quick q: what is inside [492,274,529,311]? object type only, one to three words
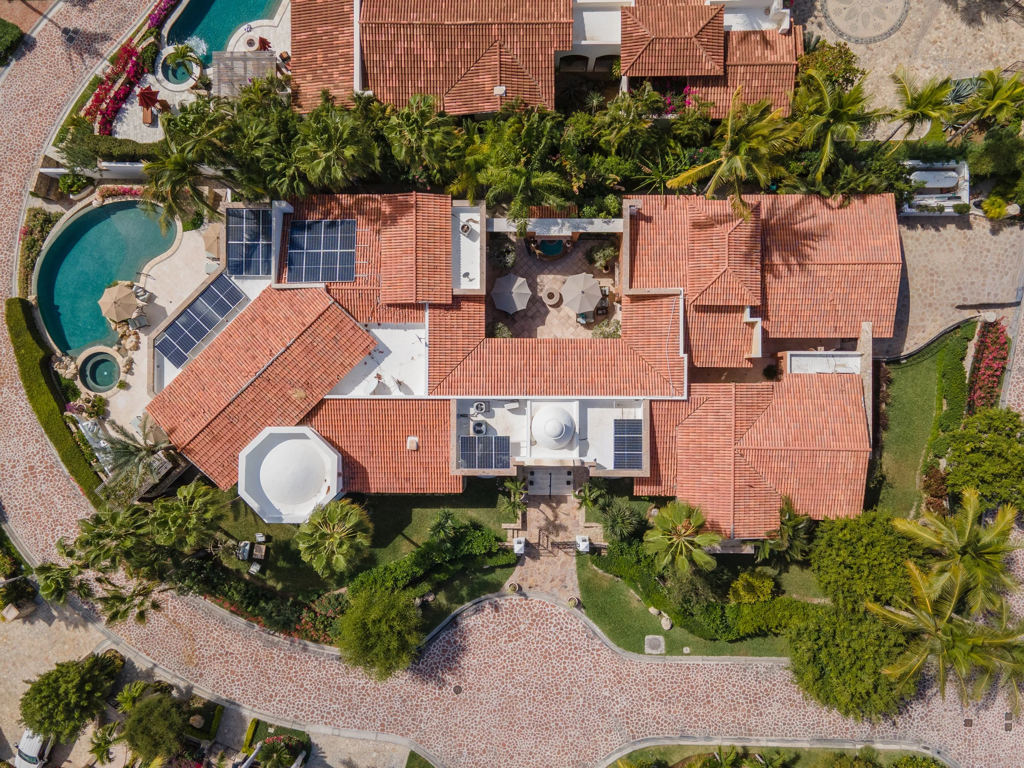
umbrella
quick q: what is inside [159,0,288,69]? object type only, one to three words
swimming pool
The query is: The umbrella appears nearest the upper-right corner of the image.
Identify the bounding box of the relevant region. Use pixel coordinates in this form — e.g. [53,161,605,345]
[561,272,602,313]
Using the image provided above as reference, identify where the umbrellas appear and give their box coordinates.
[561,272,602,313]
[492,274,529,311]
[199,218,220,259]
[137,87,163,114]
[256,36,280,64]
[100,283,141,323]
